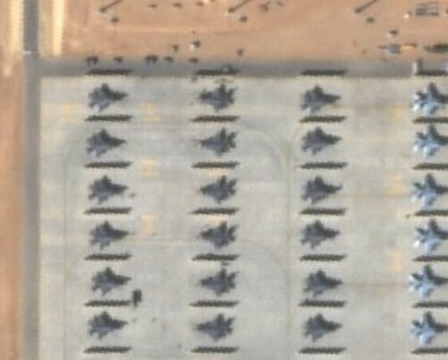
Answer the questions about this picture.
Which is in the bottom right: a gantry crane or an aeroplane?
aeroplane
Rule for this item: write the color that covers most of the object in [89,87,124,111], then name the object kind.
gray airplane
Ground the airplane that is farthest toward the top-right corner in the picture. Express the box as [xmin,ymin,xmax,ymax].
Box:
[411,88,448,114]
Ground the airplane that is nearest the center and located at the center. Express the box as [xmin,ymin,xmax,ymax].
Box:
[196,180,232,203]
